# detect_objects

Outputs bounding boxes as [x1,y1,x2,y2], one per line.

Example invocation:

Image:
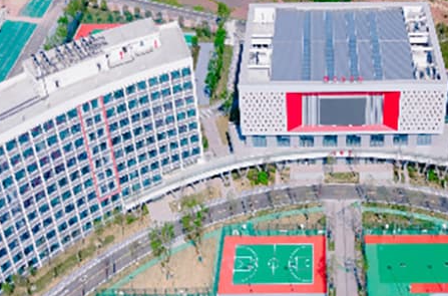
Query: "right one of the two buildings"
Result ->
[238,3,448,144]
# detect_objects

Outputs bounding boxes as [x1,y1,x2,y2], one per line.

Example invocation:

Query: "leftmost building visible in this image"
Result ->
[0,19,208,286]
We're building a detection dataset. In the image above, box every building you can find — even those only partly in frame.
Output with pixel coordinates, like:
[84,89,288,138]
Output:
[238,3,448,144]
[0,19,208,286]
